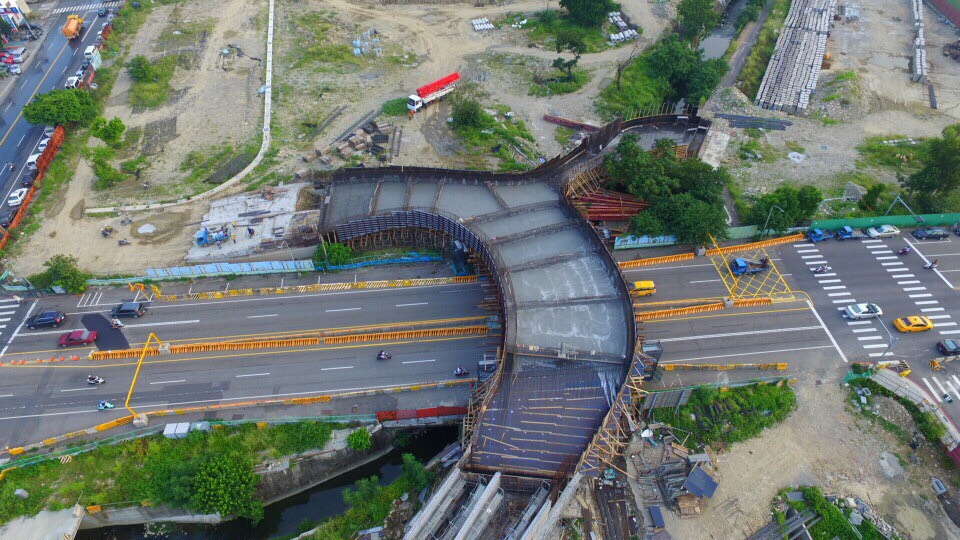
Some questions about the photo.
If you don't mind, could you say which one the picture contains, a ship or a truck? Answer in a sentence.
I can see a truck in this picture.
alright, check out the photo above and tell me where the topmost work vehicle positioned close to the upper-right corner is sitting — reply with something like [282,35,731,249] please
[818,46,837,68]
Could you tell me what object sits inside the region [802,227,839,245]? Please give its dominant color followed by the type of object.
blue vehicle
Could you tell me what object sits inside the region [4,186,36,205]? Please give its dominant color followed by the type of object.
white car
